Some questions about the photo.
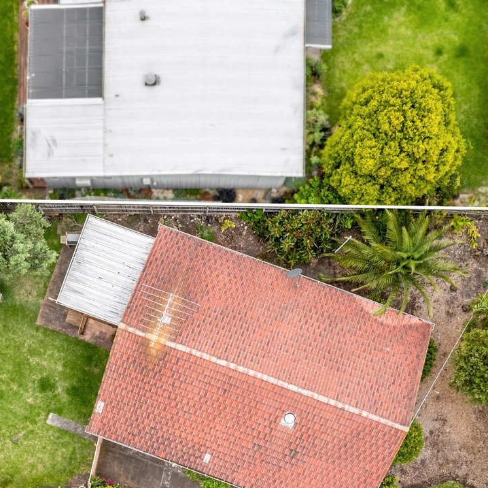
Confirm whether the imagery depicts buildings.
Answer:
Yes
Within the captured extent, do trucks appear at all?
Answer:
No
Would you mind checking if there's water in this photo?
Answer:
No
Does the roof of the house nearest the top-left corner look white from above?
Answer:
Yes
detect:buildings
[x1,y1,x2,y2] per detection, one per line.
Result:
[85,222,435,488]
[21,0,308,192]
